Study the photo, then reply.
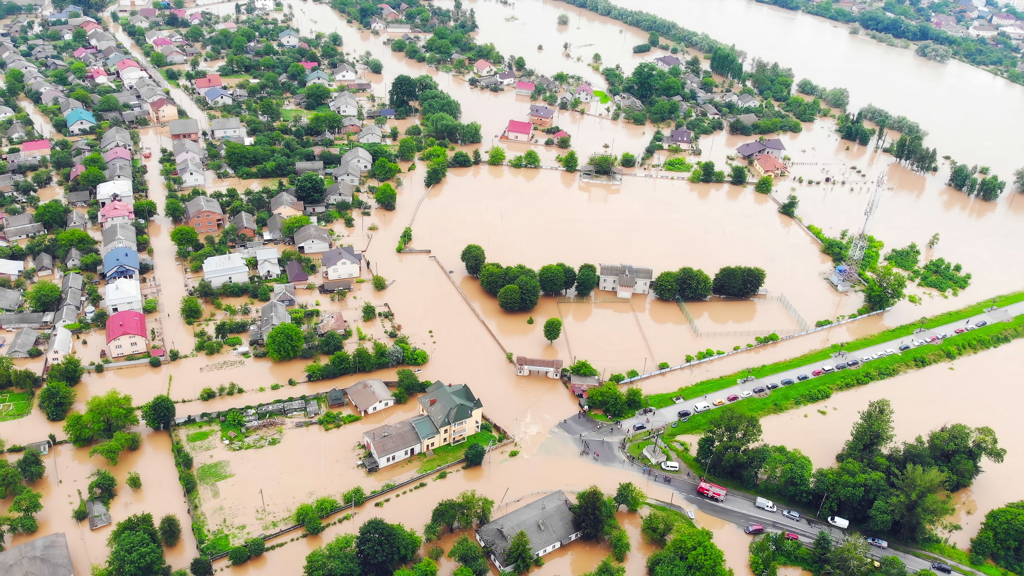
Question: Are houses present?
Yes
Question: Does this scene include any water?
Yes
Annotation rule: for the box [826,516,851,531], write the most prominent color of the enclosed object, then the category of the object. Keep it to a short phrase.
white vehicle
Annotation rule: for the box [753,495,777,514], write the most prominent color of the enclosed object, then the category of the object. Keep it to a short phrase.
white vehicle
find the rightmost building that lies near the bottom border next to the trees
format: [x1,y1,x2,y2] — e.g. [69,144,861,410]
[472,495,580,575]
